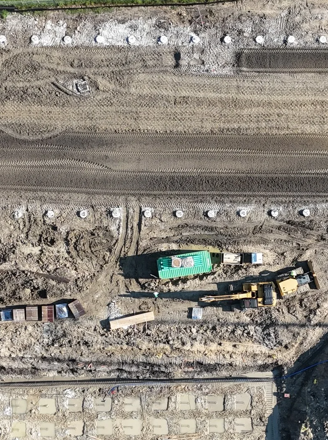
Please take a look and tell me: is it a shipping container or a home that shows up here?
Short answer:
shipping container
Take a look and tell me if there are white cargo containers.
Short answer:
No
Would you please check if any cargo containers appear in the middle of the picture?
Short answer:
Yes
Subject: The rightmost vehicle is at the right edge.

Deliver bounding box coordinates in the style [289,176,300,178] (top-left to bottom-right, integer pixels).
[275,260,322,299]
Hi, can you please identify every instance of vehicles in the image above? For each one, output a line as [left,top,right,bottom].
[275,260,322,299]
[201,281,276,308]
